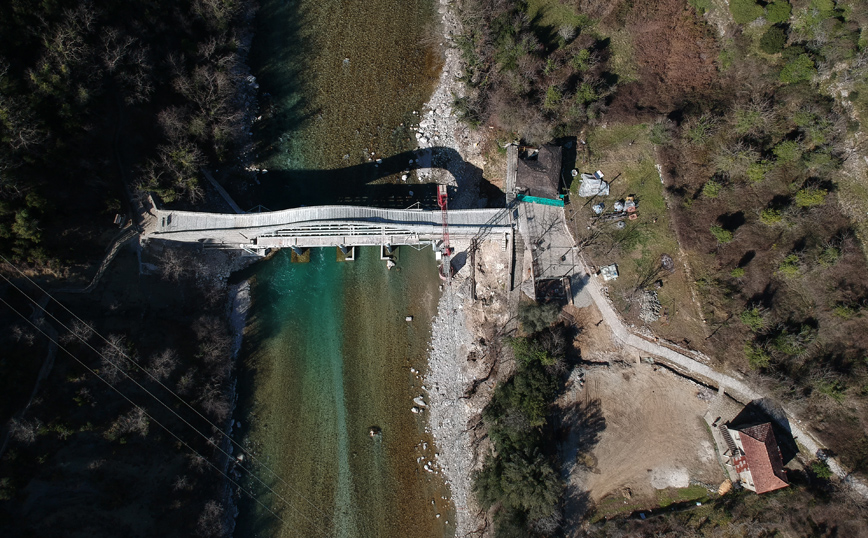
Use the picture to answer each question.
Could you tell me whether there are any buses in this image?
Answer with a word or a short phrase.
No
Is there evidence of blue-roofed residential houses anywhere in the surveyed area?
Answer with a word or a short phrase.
No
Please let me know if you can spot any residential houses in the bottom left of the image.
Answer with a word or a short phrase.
No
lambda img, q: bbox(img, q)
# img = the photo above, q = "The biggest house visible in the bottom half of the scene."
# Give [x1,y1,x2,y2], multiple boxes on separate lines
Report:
[717,421,790,494]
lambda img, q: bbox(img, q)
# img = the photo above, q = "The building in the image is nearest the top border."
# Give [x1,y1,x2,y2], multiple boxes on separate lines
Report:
[516,146,561,202]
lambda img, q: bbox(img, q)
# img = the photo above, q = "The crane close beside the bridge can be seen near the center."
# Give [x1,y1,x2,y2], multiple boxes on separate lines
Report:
[437,186,459,391]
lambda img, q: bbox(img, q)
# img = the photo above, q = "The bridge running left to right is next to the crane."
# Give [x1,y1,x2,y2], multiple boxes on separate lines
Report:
[142,205,514,244]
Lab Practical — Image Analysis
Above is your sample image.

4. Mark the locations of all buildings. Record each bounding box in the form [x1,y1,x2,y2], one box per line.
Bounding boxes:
[600,262,622,281]
[717,421,790,494]
[516,146,561,202]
